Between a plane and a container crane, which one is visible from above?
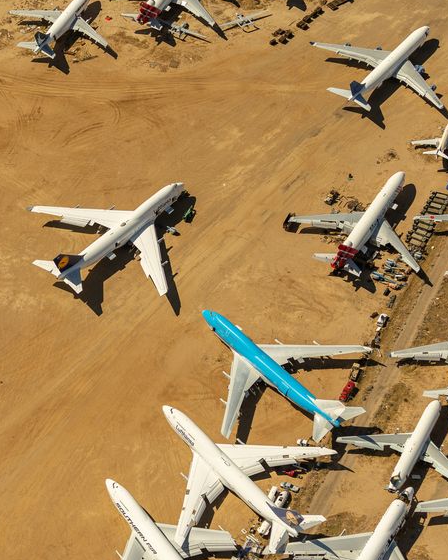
plane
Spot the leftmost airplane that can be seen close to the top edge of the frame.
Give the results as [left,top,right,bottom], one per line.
[8,0,106,58]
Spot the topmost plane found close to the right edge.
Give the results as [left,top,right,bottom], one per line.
[305,26,447,111]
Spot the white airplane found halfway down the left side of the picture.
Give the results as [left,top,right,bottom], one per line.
[22,184,185,297]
